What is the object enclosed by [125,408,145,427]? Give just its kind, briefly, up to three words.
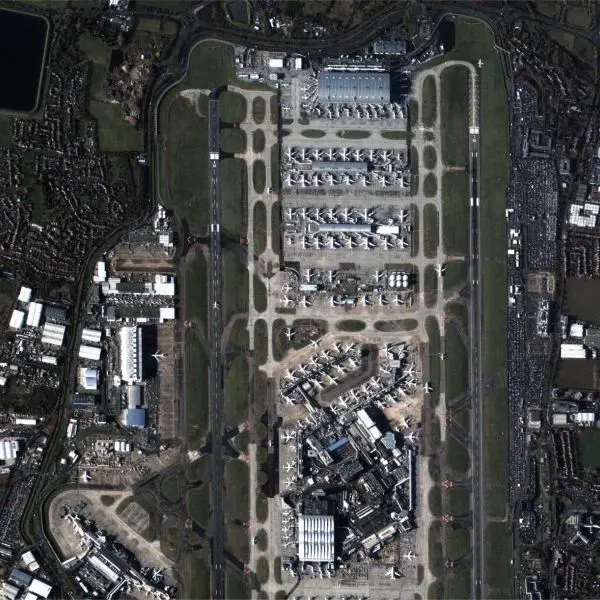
hangar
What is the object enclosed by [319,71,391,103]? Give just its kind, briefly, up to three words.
building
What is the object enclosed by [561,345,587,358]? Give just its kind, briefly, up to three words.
building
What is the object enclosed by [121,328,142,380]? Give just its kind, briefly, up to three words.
hangar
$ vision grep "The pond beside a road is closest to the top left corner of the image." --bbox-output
[0,9,47,111]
